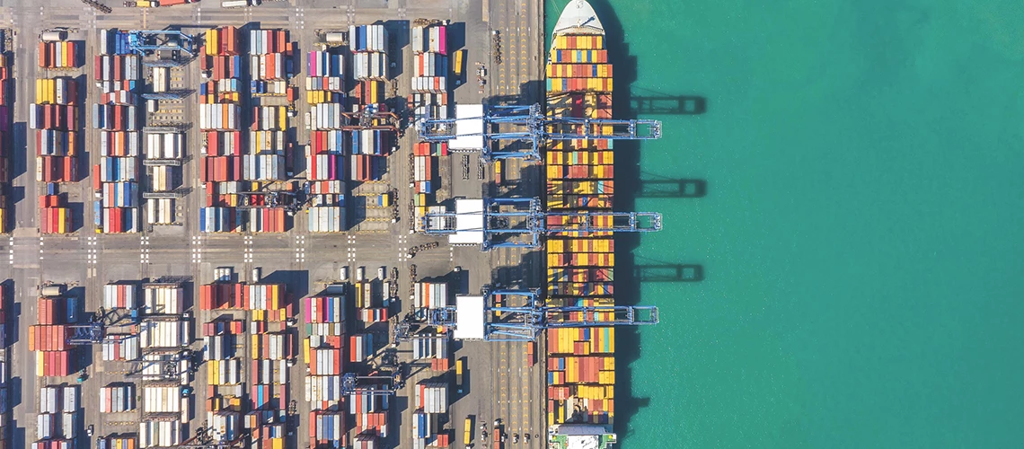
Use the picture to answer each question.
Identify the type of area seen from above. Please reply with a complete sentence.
The picture captures a port.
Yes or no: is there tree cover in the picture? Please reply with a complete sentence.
No, the picture contains no tree cover.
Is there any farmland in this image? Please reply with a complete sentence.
No, the scene doesn't show any farmland.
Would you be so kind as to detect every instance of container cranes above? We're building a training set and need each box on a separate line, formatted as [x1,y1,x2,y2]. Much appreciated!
[419,193,661,253]
[419,100,661,167]
[173,424,243,449]
[340,369,400,397]
[125,29,192,58]
[123,353,190,381]
[419,277,661,340]
[66,319,140,347]
[396,310,451,337]
[341,109,399,136]
[236,188,298,212]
